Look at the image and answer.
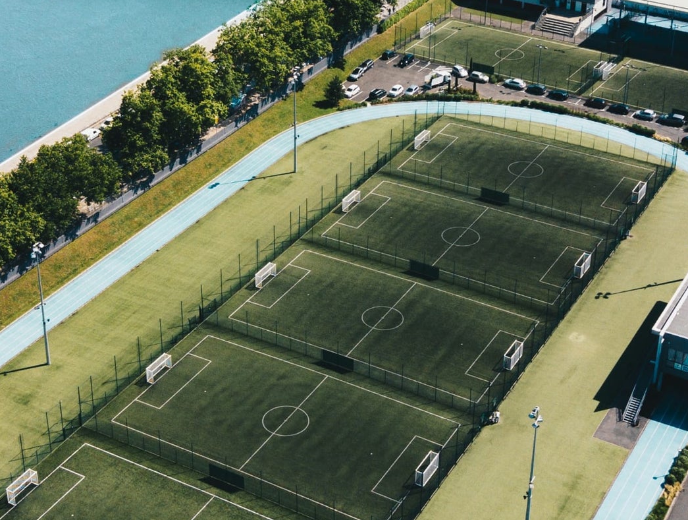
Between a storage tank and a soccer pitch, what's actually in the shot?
soccer pitch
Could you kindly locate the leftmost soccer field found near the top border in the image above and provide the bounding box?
[395,17,628,94]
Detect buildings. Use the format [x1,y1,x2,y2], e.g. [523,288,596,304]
[649,270,688,397]
[620,0,688,53]
[505,0,622,30]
